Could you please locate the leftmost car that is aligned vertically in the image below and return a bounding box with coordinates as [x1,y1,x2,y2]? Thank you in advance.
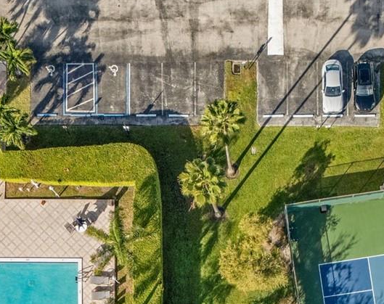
[320,58,348,113]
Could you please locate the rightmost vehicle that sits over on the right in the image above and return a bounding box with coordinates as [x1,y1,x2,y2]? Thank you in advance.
[353,59,381,112]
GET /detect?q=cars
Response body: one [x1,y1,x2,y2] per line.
[320,58,348,113]
[353,59,381,112]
